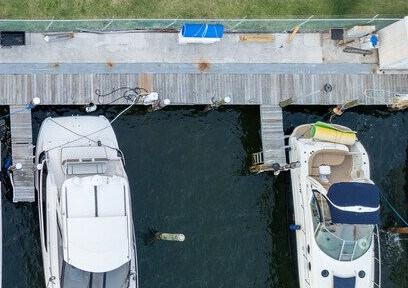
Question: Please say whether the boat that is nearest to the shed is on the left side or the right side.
right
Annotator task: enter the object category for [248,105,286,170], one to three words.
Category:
pier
